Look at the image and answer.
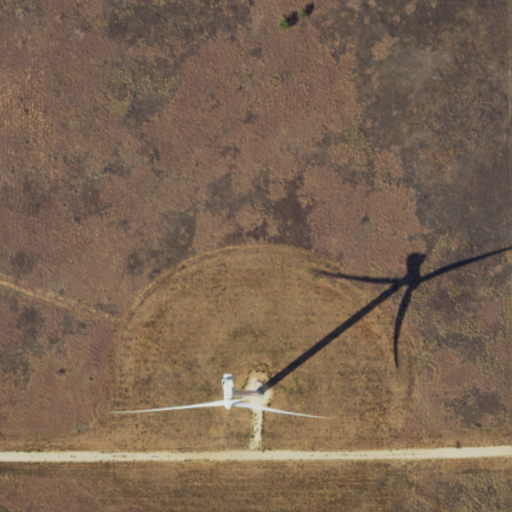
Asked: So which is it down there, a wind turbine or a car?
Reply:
wind turbine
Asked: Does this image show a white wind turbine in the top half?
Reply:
No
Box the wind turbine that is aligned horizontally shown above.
[106,374,324,420]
